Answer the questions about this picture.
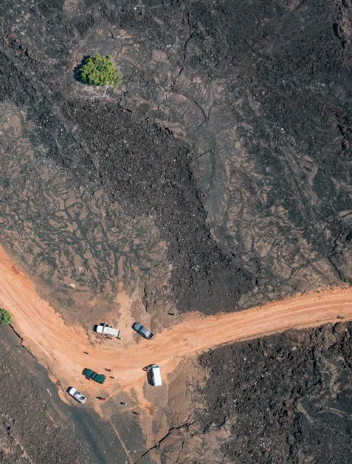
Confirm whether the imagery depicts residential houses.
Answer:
No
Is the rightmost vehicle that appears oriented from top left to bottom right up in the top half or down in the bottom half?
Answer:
bottom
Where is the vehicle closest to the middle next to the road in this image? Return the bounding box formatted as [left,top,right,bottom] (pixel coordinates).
[133,321,156,340]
